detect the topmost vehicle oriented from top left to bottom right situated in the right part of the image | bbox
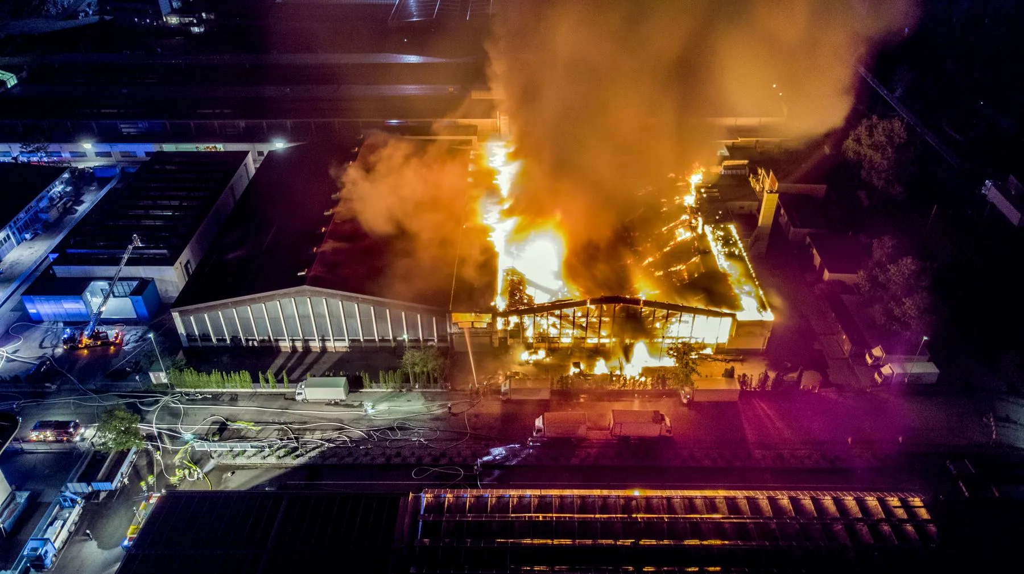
[975,175,1024,219]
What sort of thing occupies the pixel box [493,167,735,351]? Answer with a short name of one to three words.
building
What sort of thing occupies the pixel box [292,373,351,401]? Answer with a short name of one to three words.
truck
